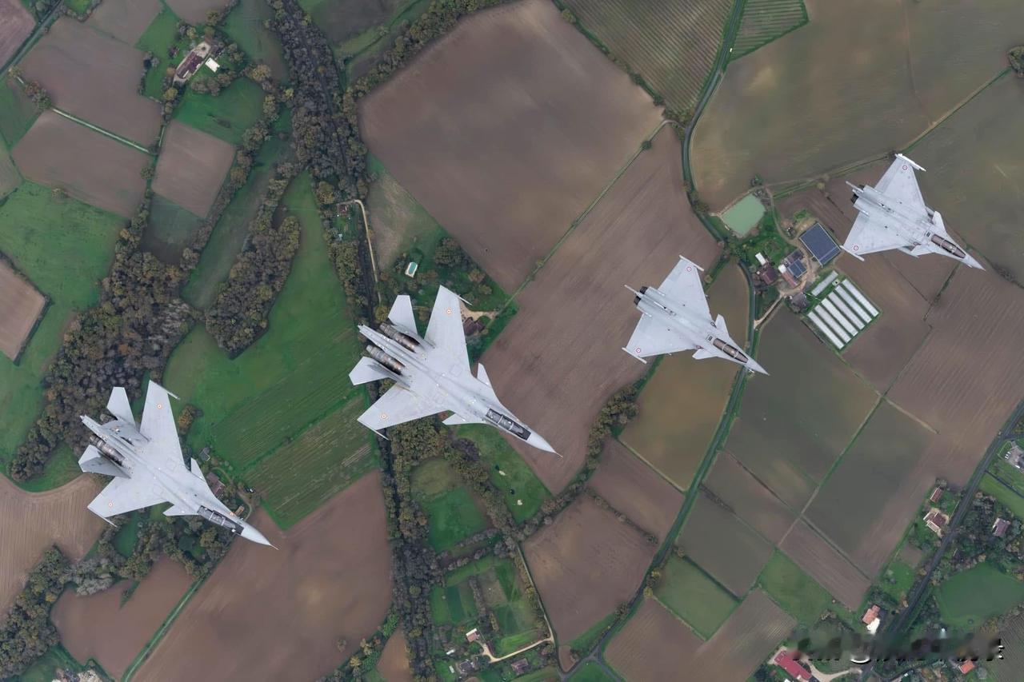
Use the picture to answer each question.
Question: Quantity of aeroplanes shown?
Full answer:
The picture shows 4 aeroplanes.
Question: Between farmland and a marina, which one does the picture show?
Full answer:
It's farmland.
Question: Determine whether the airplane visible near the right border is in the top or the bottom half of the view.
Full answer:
The top half of the photo is where the airplane visible near the right border is.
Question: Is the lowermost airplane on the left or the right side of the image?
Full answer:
The lowermost airplane is on the left side of the image.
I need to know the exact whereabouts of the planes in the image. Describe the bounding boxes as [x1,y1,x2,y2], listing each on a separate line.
[349,284,561,456]
[836,151,984,270]
[74,378,278,549]
[621,255,769,376]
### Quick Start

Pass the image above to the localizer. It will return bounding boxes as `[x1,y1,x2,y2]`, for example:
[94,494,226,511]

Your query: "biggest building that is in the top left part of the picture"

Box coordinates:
[176,49,201,76]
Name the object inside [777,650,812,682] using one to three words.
building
